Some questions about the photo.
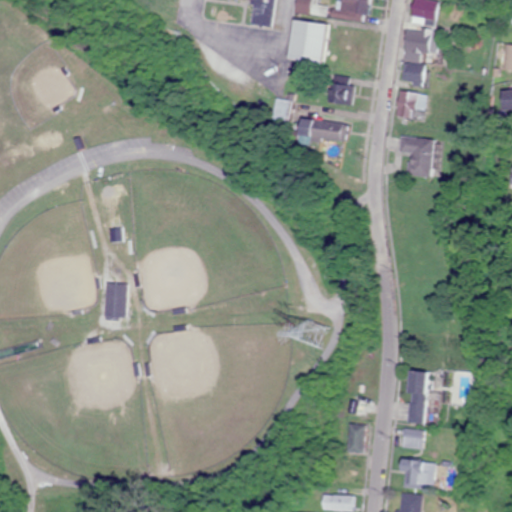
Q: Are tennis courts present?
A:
No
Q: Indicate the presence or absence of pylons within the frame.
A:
Yes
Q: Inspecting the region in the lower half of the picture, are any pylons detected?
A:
Yes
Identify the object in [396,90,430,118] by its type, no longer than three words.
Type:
house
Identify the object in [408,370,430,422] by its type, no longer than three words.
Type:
house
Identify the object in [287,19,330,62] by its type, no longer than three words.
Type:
building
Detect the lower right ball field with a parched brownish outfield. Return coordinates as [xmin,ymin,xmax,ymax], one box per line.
[146,322,292,476]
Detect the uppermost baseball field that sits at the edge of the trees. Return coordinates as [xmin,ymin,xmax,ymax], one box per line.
[10,41,79,128]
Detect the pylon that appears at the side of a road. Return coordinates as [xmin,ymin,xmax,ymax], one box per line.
[280,320,330,350]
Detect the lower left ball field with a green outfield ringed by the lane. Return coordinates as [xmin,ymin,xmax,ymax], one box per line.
[0,336,147,480]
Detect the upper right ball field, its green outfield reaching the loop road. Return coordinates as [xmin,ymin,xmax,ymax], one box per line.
[130,168,288,314]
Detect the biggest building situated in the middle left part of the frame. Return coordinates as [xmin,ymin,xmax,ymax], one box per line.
[106,282,128,321]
